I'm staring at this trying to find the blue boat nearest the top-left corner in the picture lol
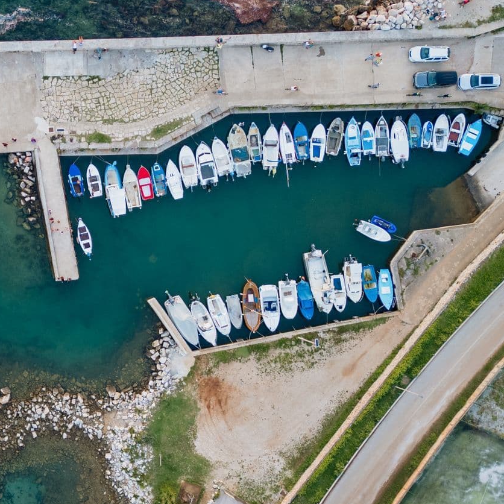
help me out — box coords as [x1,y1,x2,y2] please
[67,156,85,206]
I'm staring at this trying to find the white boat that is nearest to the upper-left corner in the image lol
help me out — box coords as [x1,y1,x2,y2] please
[86,157,103,198]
